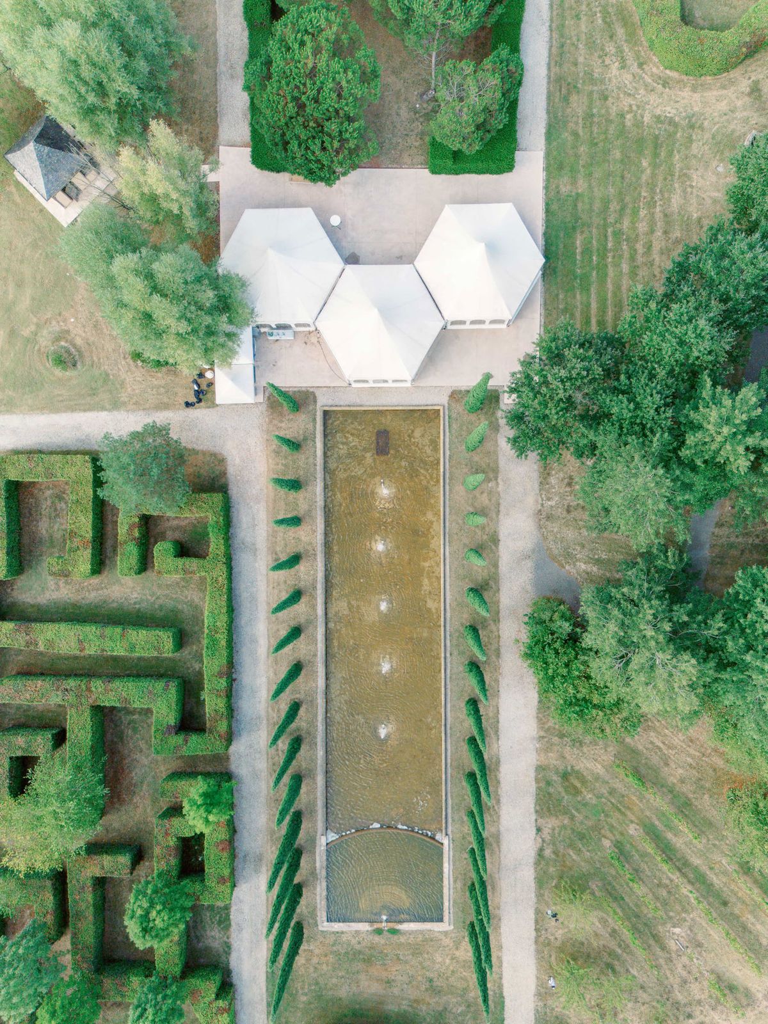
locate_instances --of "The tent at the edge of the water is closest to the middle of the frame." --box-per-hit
[315,264,445,388]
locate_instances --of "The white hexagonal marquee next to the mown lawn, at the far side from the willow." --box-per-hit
[414,203,545,331]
